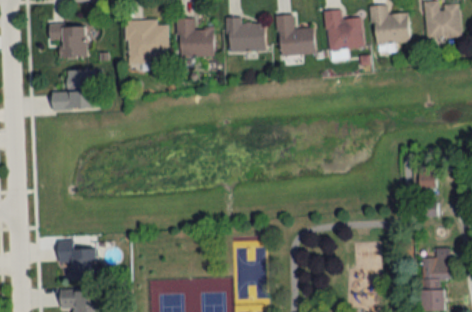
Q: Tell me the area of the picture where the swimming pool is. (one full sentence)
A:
Look in the bottom left portion of the view to spot the swimming pool.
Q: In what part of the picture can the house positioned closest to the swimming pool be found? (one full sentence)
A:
You can find the house positioned closest to the swimming pool in the bottom left area of the picture.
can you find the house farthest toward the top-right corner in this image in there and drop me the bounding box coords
[424,0,463,38]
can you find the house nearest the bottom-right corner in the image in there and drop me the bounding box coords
[422,248,452,312]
